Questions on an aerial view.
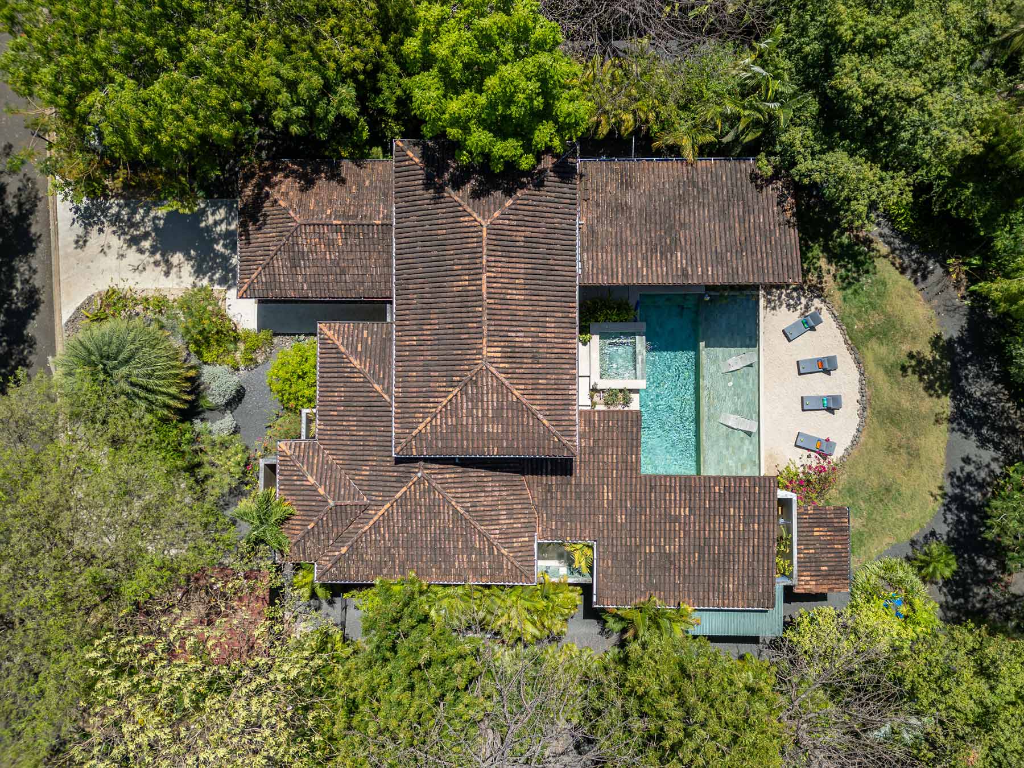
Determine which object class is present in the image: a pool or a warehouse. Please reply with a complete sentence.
There is a pool in the scene.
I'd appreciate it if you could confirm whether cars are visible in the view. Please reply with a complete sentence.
No, the scene contains no car.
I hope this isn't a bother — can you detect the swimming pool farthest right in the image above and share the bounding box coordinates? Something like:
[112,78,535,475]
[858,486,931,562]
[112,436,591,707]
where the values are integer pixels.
[634,291,765,476]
